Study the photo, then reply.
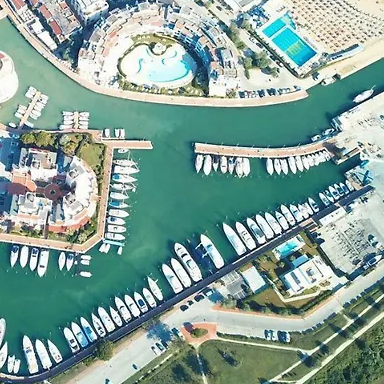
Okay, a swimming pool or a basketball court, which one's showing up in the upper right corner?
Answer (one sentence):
The one visible in the upper right corner is a swimming pool.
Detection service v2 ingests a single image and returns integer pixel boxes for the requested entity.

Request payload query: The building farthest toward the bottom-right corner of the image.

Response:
[280,251,341,290]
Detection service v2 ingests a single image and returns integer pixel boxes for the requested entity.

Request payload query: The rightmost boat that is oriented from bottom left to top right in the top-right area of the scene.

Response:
[351,79,377,103]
